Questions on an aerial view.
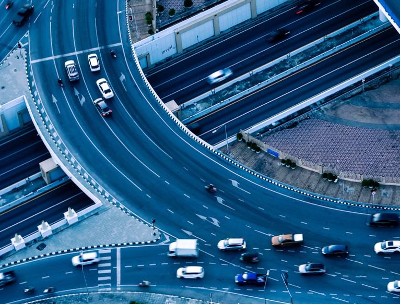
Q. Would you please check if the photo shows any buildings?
No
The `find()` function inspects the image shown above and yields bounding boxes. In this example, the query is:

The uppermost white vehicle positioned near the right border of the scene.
[373,240,400,254]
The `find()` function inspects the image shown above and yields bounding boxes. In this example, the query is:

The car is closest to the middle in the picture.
[189,120,205,133]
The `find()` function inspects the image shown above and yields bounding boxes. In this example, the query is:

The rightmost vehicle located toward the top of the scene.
[296,0,320,14]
